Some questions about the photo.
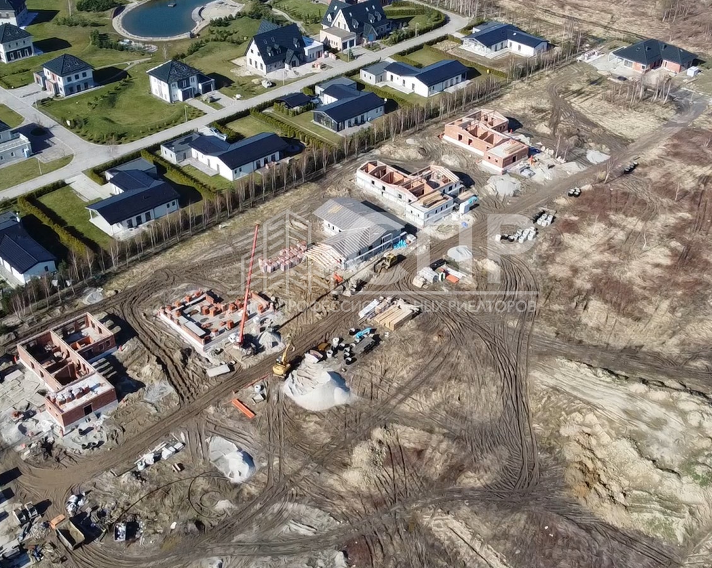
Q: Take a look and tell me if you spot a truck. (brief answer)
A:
Yes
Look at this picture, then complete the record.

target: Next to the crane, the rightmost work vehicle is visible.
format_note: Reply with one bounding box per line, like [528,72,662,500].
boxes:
[267,337,300,377]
